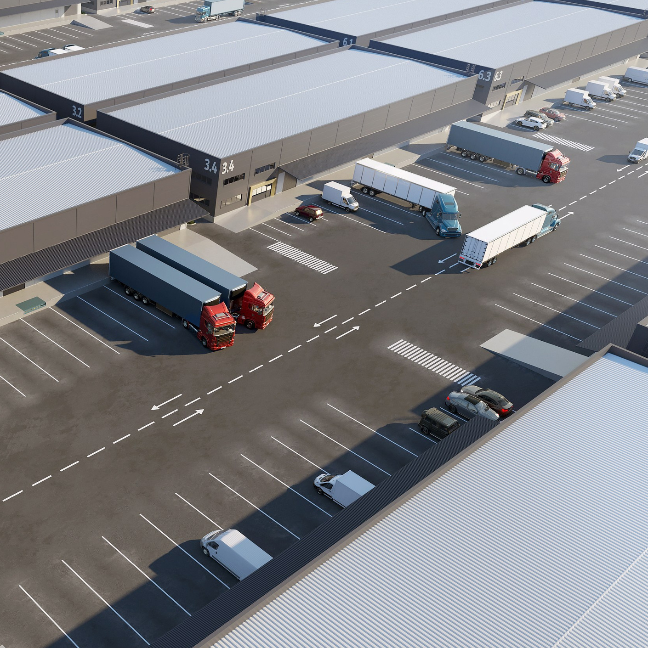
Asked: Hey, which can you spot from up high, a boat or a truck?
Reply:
truck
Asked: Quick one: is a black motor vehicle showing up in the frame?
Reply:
Yes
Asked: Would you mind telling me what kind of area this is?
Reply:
industrial area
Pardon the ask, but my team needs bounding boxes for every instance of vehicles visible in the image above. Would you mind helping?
[416,411,456,441]
[109,245,233,350]
[200,530,272,580]
[516,118,549,131]
[599,76,630,98]
[461,202,562,269]
[457,385,516,417]
[317,471,377,509]
[586,79,619,102]
[564,87,600,110]
[293,205,325,222]
[136,236,272,327]
[140,5,157,13]
[198,0,249,22]
[448,121,573,184]
[626,137,648,163]
[625,67,648,85]
[321,180,362,213]
[352,159,472,236]
[538,106,568,122]
[445,393,502,424]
